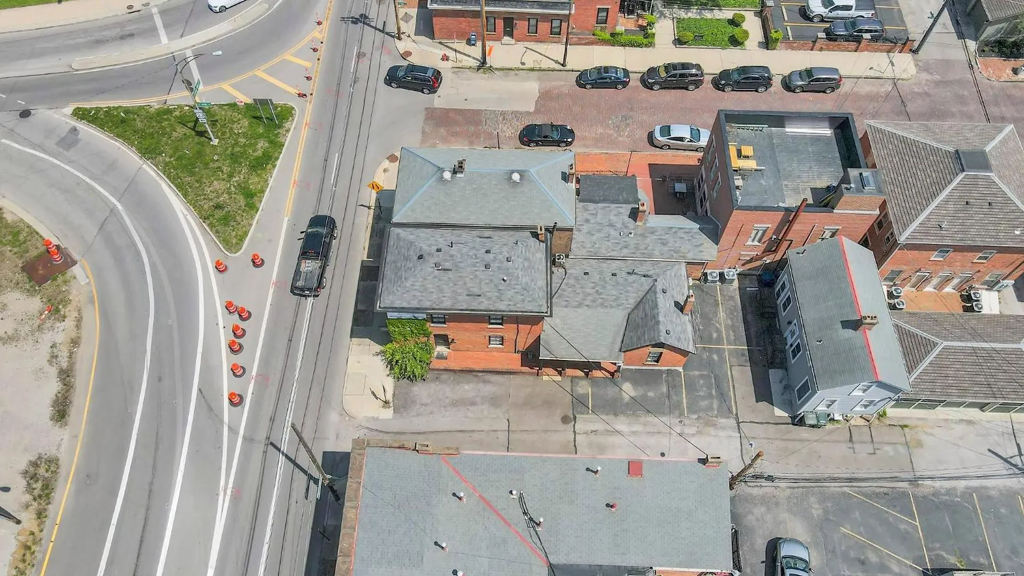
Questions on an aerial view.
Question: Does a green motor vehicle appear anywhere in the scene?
No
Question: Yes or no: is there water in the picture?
No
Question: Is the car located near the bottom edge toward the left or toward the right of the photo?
right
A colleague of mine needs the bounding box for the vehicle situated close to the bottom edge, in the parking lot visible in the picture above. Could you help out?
[776,539,821,576]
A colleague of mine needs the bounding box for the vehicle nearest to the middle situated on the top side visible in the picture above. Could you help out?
[519,121,575,148]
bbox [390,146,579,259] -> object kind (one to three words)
house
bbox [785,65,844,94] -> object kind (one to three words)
car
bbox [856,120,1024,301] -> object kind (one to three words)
building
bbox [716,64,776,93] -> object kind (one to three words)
car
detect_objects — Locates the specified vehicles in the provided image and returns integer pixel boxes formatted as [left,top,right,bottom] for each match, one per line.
[716,64,776,93]
[644,61,706,91]
[830,14,889,39]
[776,539,821,576]
[204,0,252,13]
[383,63,444,95]
[519,121,575,148]
[653,123,709,153]
[785,65,844,94]
[805,0,877,22]
[291,218,338,293]
[578,64,633,90]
